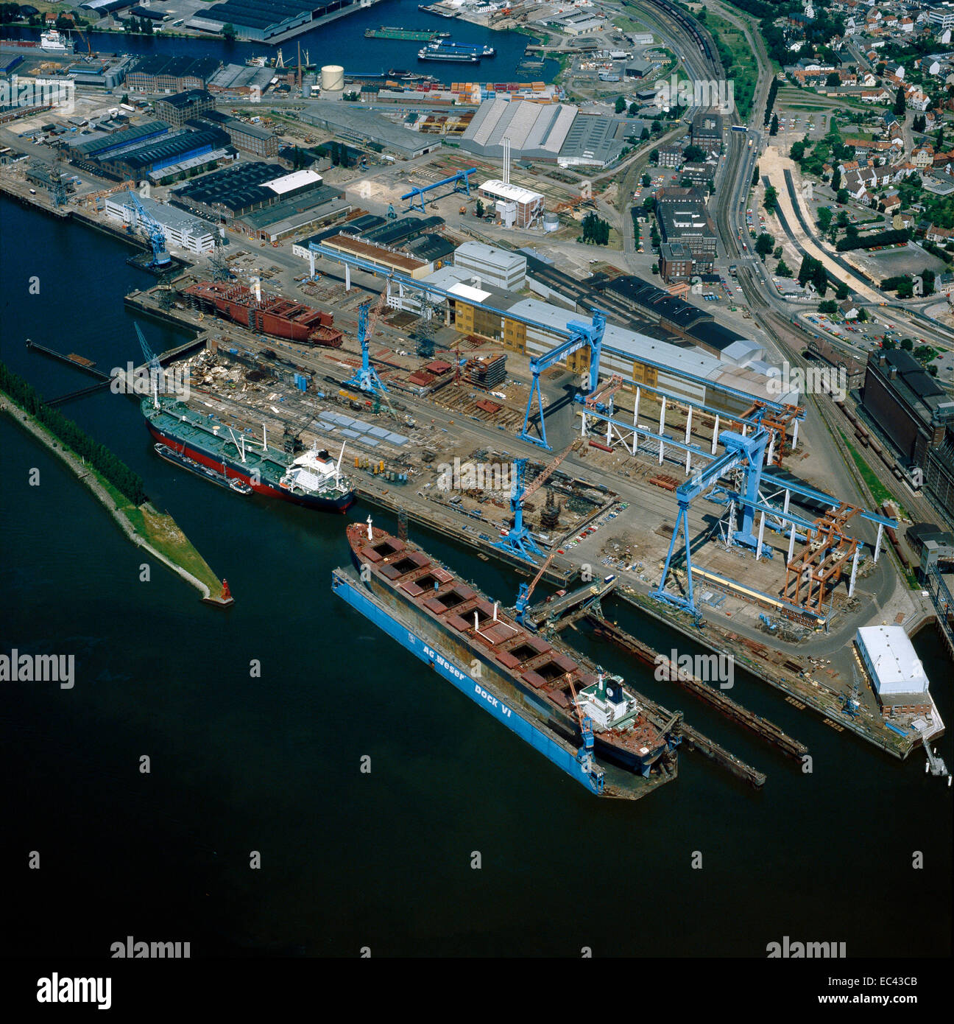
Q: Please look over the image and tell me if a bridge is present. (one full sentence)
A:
Yes, there's a bridge here.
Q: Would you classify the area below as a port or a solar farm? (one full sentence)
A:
This image shows a port.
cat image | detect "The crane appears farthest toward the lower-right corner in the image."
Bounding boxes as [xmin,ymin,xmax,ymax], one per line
[834,664,868,725]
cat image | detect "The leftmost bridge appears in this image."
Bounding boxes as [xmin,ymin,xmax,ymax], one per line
[529,572,624,633]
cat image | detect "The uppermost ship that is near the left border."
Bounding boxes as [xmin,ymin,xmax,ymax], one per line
[0,22,75,53]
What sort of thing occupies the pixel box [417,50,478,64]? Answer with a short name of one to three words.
ship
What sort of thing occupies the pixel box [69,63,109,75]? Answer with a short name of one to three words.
shed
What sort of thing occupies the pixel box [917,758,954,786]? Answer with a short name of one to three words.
pier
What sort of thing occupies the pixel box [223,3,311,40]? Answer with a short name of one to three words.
building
